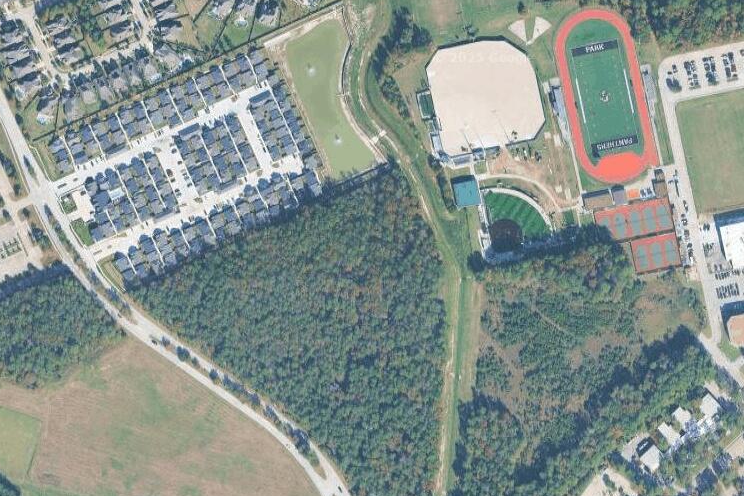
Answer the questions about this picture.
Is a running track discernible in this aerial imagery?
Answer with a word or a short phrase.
Yes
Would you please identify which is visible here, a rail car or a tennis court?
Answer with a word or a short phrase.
tennis court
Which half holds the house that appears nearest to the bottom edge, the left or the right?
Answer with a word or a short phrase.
right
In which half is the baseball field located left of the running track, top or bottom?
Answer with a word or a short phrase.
top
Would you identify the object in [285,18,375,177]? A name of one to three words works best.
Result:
pond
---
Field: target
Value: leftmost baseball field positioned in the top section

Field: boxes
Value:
[427,42,545,157]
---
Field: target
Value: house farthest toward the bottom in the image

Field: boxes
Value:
[636,441,664,470]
